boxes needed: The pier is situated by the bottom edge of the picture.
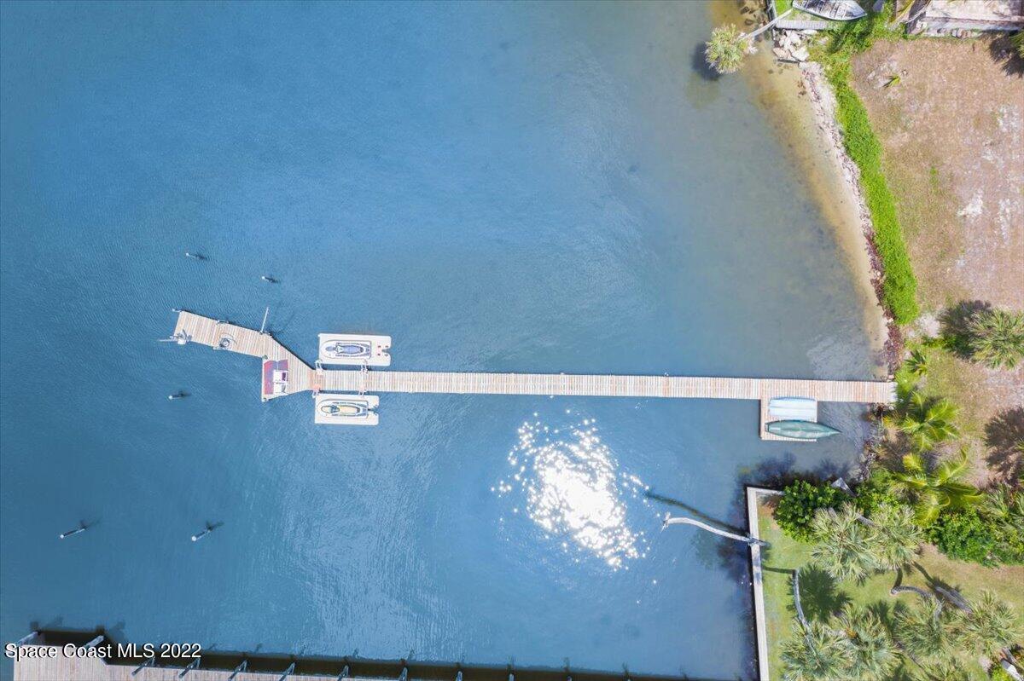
[12,631,736,681]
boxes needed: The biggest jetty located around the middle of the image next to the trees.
[167,309,896,441]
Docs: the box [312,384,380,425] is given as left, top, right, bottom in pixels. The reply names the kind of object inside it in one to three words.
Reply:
pier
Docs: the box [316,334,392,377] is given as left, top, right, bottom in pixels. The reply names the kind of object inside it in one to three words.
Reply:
pier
